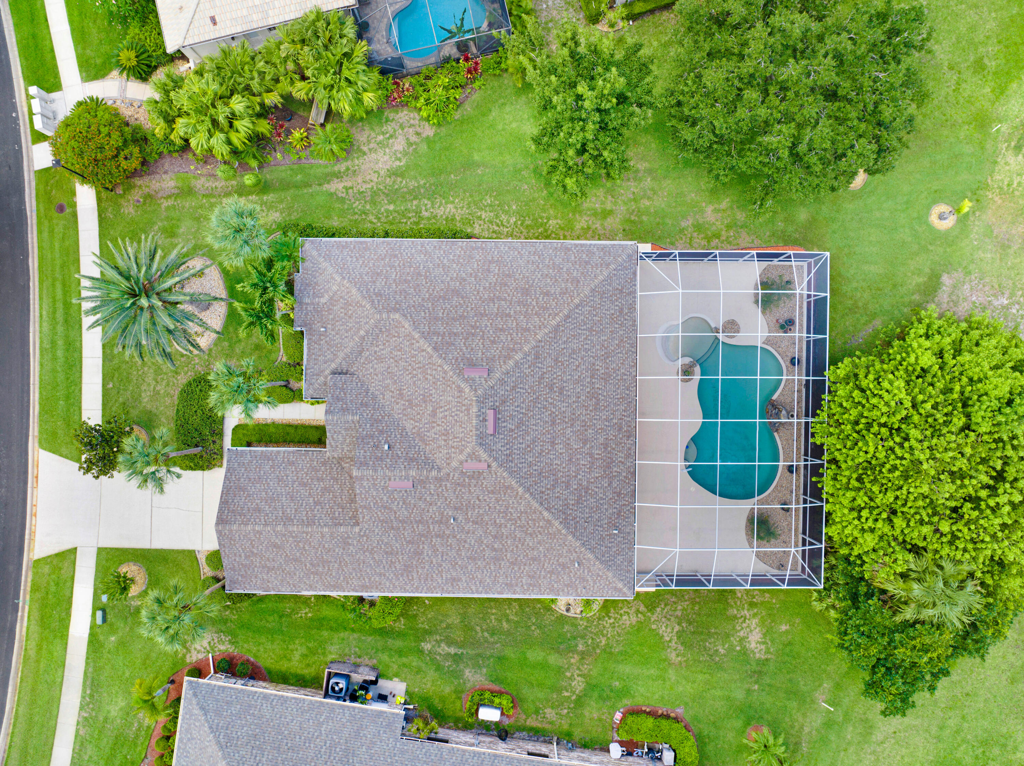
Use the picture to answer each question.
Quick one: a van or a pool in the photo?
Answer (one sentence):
There is a pool in the scene.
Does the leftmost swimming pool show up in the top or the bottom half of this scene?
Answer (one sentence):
Seen from above, the leftmost swimming pool lies in the top half of the view.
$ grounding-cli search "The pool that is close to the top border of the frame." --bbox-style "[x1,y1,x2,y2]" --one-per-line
[390,0,486,57]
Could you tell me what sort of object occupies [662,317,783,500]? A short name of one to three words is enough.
swimming pool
